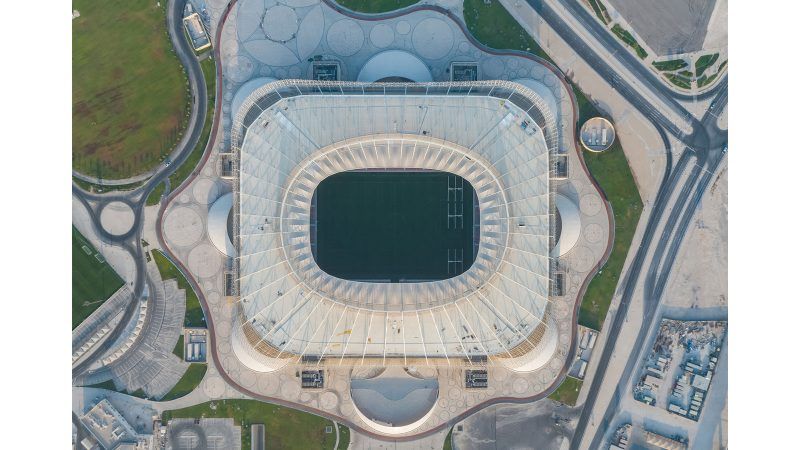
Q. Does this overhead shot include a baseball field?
No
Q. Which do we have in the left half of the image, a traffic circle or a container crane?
traffic circle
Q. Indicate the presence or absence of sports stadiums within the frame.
Yes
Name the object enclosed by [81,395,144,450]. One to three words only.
building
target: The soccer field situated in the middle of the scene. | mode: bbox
[329,181,460,269]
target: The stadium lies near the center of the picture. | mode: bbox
[207,49,582,434]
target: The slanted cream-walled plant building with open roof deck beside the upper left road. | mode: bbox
[180,10,211,51]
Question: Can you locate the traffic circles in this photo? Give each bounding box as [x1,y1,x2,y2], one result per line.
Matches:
[91,193,142,243]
